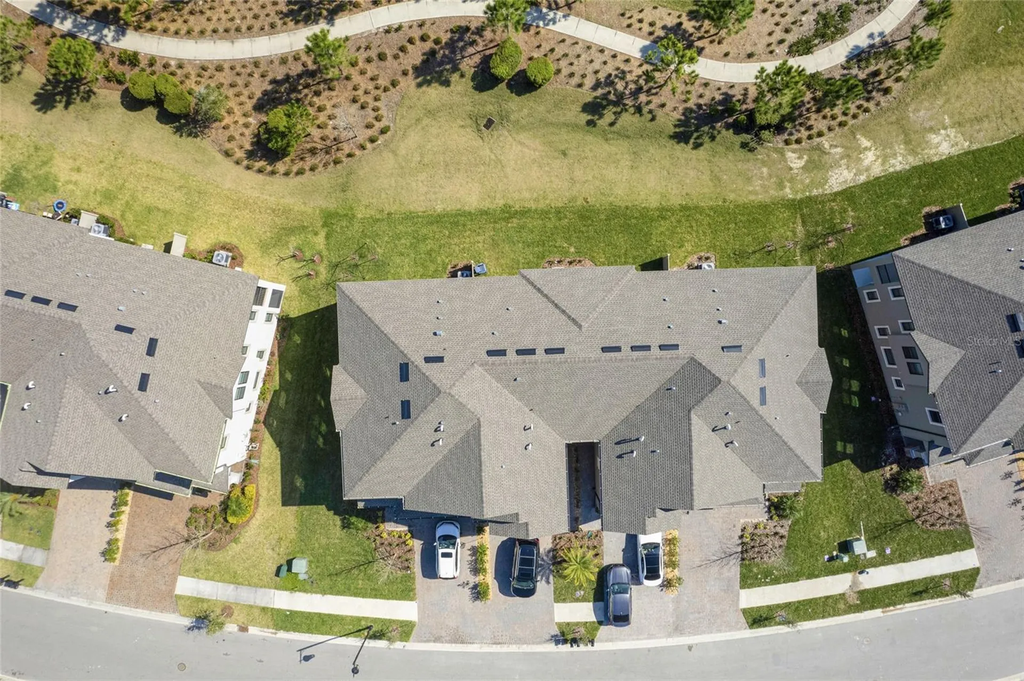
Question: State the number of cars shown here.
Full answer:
In total, 4 cars can be seen.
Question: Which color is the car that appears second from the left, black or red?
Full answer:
The color of the car that appears second from the left is black.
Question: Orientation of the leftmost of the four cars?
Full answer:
The leftmost of the four cars runs from top to bottom in the image.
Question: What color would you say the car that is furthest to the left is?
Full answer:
The color of the car that is furthest to the left is white.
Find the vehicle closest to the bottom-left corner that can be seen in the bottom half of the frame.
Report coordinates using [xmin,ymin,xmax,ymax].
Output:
[434,520,462,579]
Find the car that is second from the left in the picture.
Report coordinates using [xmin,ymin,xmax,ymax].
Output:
[510,538,539,596]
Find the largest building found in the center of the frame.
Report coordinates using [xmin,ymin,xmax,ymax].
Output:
[330,265,832,540]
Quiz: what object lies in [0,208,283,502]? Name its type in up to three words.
house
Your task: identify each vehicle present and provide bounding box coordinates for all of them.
[635,533,664,587]
[434,520,462,579]
[510,538,539,596]
[604,562,634,627]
